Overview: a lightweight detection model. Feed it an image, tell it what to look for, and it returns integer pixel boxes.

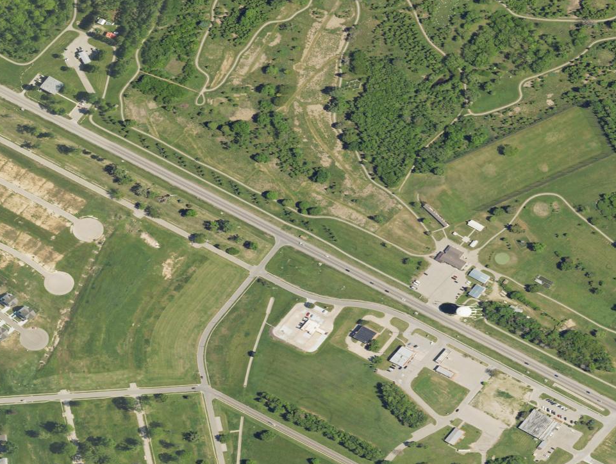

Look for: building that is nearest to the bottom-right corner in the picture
[518,409,561,449]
